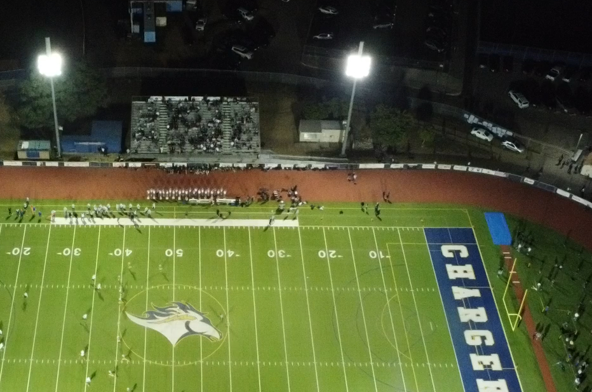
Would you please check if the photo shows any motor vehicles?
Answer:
Yes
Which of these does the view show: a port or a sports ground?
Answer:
sports ground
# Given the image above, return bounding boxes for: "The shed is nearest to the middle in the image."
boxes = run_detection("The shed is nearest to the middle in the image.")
[299,118,345,143]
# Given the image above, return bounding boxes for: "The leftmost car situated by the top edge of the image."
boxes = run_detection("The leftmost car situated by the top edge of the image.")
[194,17,208,31]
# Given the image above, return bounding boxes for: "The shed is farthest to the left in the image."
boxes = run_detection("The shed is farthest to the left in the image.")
[15,137,51,156]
